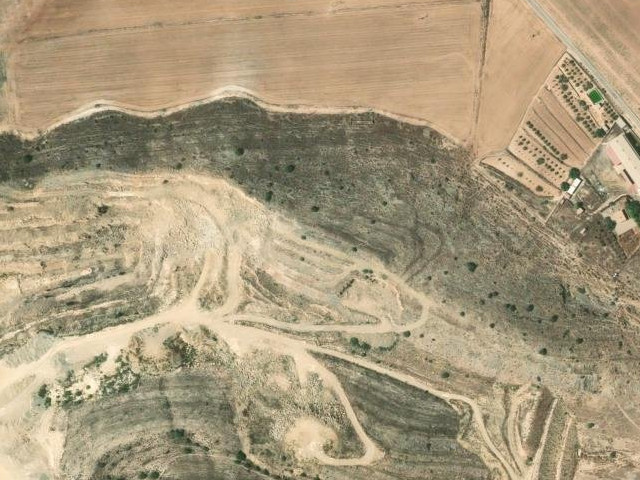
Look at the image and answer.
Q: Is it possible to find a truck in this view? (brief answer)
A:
No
